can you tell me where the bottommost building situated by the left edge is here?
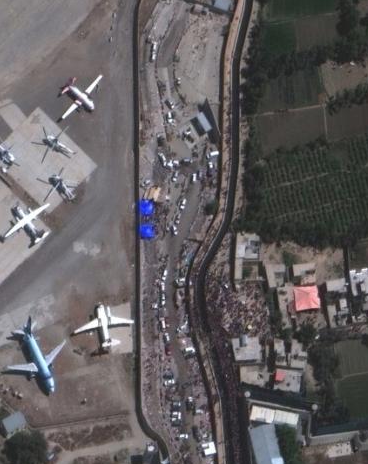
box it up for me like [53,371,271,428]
[1,411,27,436]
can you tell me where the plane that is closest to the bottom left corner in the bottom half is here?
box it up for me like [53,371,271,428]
[4,322,70,393]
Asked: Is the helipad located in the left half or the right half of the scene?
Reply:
left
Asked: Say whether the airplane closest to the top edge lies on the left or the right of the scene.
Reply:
left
